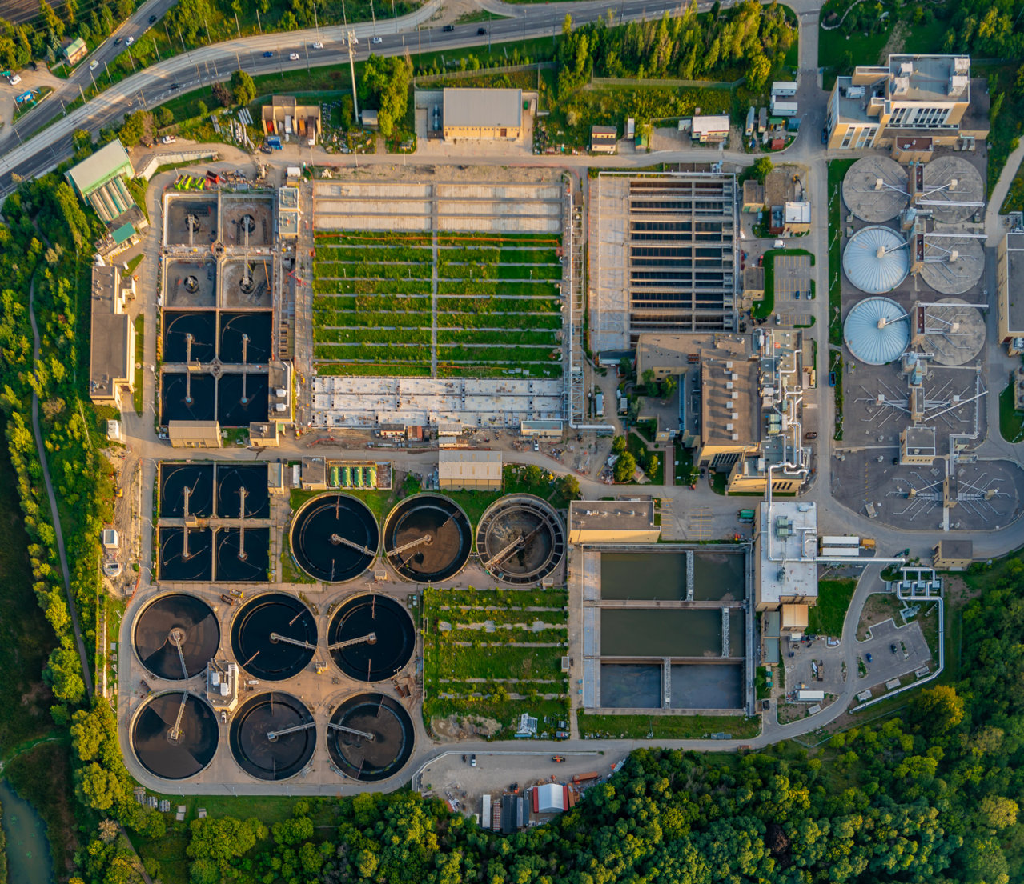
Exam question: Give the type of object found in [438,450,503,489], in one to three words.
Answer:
building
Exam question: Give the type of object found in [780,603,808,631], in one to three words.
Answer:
shed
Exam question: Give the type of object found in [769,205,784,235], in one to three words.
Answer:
house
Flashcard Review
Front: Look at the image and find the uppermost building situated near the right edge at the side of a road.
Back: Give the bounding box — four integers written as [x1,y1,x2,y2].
[828,55,989,162]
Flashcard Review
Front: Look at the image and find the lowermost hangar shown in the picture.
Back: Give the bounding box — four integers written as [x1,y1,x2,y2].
[538,783,563,813]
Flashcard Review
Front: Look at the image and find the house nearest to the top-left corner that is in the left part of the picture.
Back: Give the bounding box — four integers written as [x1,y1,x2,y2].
[64,33,90,67]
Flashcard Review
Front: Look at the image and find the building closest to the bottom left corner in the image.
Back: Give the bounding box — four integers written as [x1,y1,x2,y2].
[208,657,240,711]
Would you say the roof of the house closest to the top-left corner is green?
Yes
